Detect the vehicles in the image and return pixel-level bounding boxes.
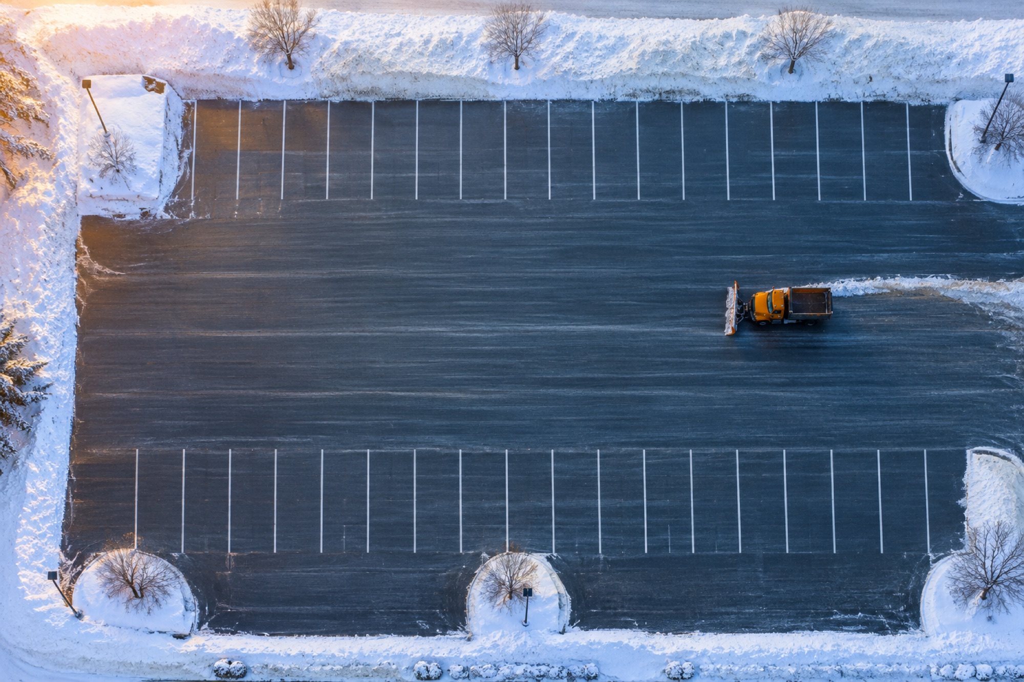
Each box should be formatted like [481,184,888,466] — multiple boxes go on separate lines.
[731,280,833,338]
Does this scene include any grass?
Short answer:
No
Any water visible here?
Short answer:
No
